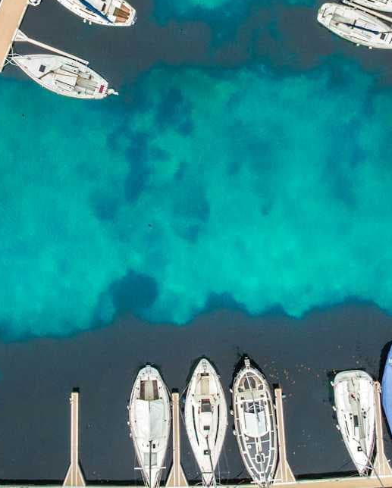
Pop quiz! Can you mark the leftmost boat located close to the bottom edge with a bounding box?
[127,360,171,488]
